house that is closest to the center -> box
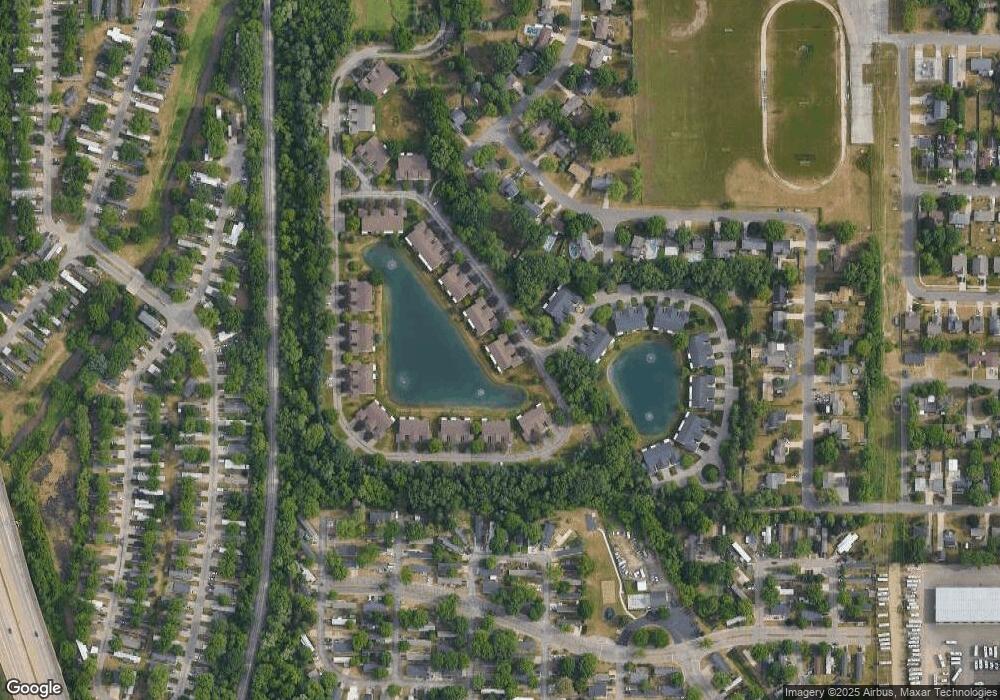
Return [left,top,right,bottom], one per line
[485,333,523,374]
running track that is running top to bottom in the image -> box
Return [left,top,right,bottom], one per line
[762,0,846,190]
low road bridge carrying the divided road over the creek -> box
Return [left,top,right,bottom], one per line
[111,258,152,298]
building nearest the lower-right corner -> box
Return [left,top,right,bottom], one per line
[936,588,1000,623]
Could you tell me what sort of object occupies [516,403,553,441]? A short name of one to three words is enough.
house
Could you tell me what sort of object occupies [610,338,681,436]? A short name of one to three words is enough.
pond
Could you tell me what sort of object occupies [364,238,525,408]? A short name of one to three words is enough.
pond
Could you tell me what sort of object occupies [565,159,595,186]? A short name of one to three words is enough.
house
